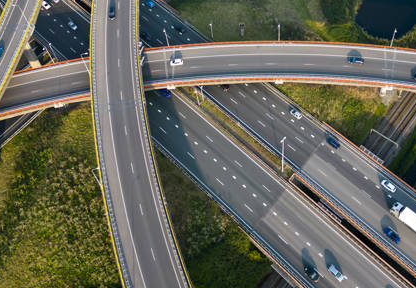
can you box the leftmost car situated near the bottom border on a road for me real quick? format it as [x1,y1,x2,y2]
[302,265,319,281]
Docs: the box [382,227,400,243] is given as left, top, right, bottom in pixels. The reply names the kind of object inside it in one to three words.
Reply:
car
